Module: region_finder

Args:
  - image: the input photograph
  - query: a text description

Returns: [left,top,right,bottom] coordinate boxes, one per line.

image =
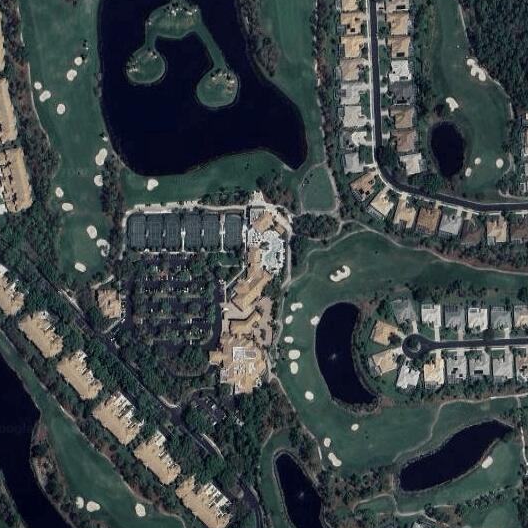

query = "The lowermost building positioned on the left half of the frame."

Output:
[175,476,230,528]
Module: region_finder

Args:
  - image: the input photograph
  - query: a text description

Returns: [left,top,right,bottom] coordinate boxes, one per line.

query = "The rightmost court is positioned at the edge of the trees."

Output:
[224,212,242,251]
